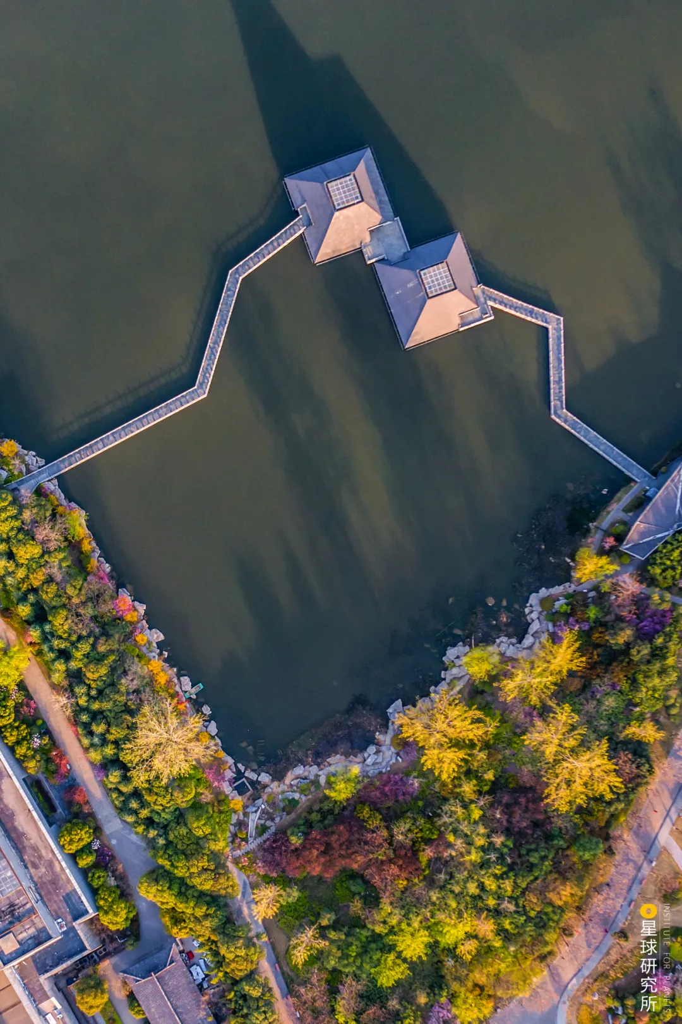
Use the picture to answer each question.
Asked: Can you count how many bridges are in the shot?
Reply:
2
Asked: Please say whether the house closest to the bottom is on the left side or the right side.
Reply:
left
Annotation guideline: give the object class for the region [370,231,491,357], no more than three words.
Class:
building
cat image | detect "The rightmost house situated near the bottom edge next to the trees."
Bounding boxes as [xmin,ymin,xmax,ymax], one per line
[118,942,219,1024]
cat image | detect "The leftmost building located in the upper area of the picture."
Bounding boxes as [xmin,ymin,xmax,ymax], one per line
[280,147,396,273]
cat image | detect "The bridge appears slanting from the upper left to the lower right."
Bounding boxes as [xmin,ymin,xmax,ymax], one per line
[481,285,653,483]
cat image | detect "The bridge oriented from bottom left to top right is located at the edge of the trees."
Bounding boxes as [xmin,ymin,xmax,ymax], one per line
[41,215,303,479]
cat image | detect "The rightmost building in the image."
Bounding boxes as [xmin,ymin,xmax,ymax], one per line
[619,458,682,560]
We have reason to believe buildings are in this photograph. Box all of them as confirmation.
[370,231,491,357]
[619,458,682,560]
[280,147,396,273]
[0,736,102,1024]
[118,942,219,1024]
